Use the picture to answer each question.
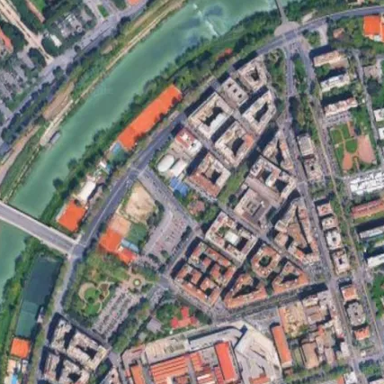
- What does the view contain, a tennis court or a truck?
tennis court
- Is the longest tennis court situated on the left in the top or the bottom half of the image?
top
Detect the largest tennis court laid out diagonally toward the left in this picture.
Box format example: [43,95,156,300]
[118,84,181,149]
